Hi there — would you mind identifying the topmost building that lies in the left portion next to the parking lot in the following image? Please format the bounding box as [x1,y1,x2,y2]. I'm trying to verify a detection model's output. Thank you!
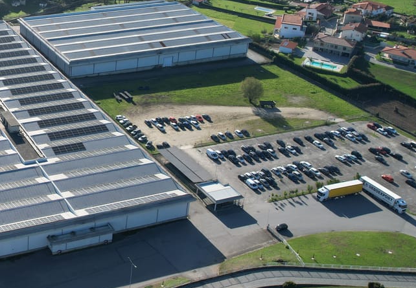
[18,0,252,81]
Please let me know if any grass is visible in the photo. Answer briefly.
Yes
